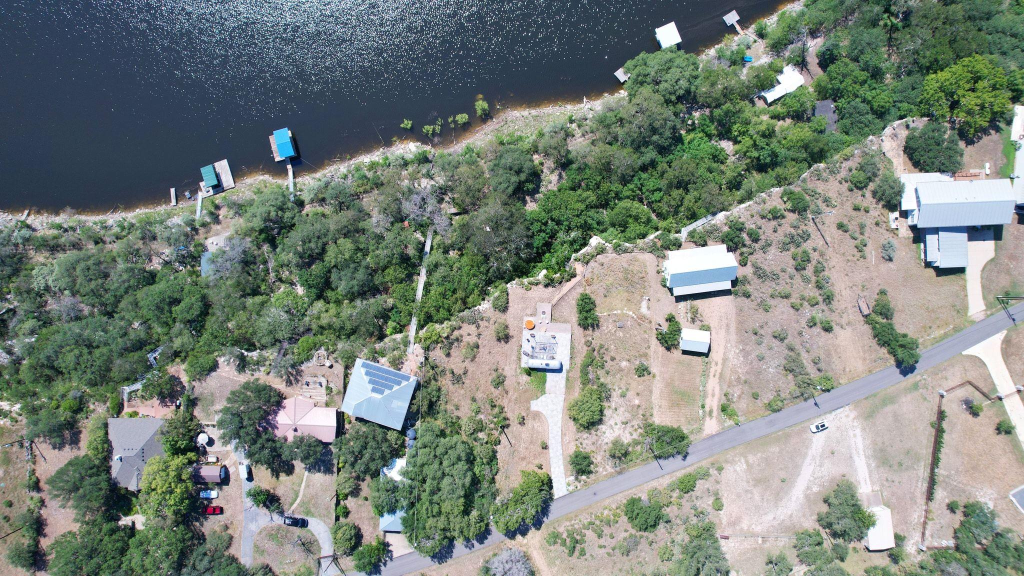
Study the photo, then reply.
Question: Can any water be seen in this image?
Yes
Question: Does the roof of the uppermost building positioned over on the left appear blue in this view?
Yes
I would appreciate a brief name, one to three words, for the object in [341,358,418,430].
house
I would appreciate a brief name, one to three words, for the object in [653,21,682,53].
building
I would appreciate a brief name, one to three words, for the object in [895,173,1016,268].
house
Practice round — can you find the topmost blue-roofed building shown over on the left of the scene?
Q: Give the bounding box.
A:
[268,128,298,162]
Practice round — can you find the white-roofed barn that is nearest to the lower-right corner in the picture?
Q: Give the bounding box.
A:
[857,504,895,551]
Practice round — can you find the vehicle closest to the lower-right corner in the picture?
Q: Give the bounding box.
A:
[811,421,830,434]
